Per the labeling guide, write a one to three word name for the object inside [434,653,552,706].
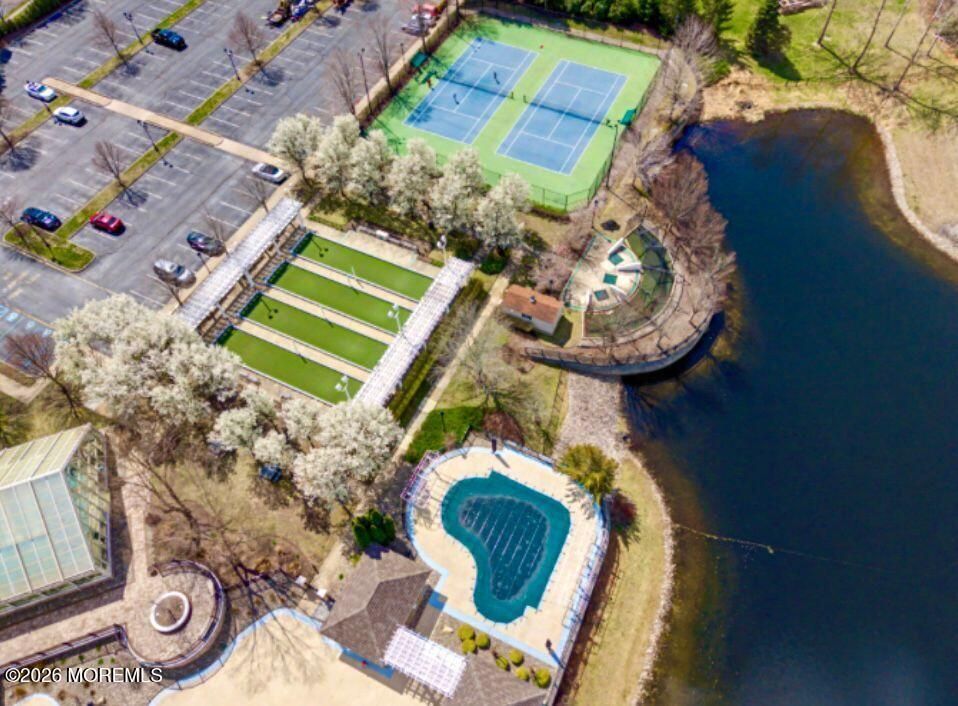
building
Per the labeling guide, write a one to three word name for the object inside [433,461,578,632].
swimming pool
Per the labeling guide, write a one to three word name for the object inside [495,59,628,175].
tennis court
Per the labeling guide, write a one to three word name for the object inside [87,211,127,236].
car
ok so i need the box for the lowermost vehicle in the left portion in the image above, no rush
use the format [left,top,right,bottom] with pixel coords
[152,259,196,287]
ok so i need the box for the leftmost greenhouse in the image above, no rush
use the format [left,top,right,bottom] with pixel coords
[0,420,111,608]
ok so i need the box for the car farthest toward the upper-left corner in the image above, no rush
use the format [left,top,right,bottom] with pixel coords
[21,80,57,102]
